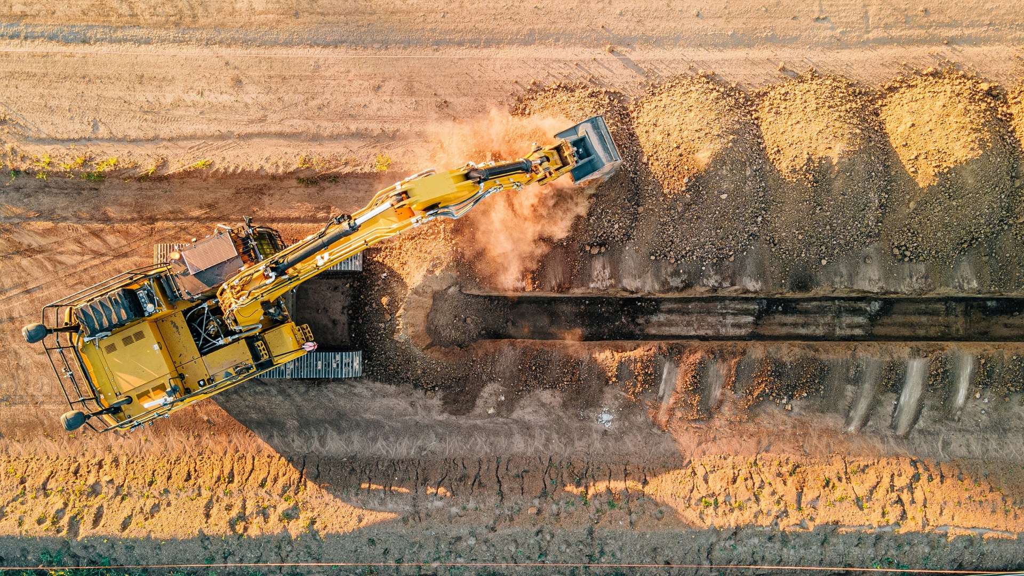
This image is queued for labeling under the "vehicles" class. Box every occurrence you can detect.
[21,110,627,433]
